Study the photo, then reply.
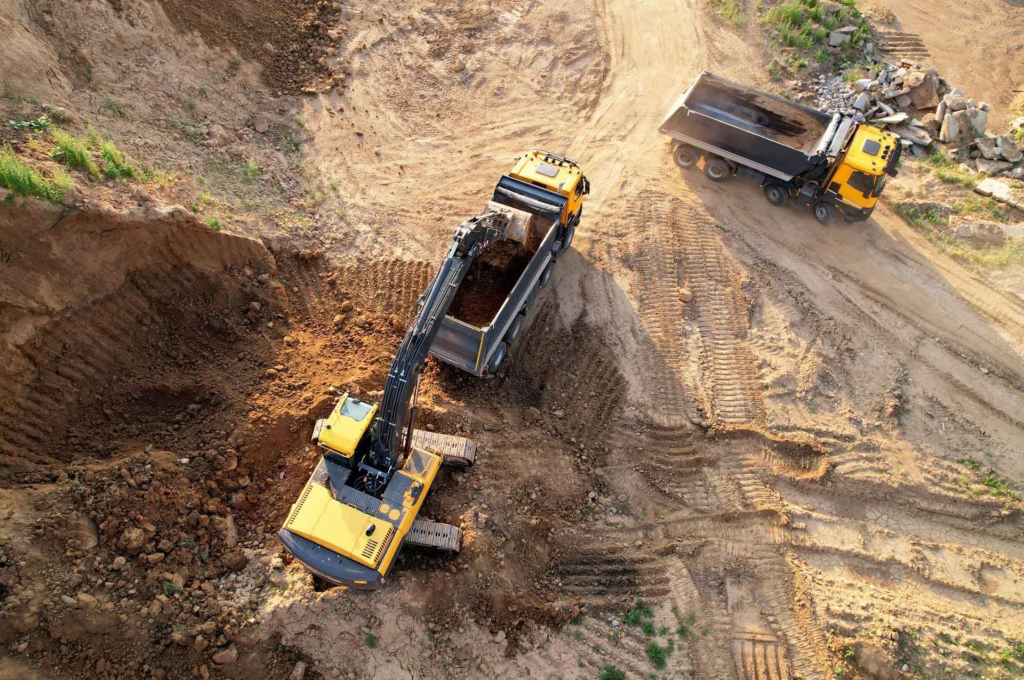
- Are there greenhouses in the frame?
No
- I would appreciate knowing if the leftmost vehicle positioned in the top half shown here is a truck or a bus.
truck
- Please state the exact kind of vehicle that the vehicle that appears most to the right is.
truck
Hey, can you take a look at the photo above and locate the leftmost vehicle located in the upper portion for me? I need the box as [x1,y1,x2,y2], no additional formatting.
[416,150,594,378]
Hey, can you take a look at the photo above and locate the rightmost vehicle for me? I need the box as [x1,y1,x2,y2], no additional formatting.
[655,66,903,229]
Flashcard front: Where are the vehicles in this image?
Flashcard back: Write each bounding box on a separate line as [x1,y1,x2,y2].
[655,66,903,229]
[416,150,594,378]
[283,199,530,594]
